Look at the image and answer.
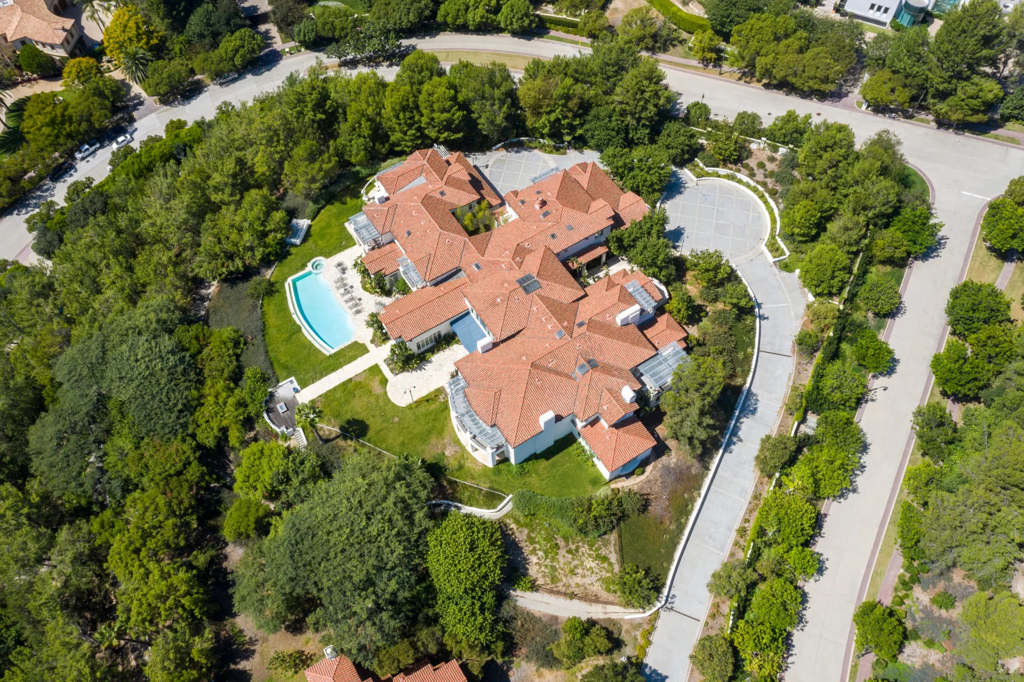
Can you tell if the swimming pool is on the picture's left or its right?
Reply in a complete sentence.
It is on the left.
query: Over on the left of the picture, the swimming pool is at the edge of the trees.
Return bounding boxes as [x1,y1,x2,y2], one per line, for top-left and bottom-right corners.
[281,259,359,357]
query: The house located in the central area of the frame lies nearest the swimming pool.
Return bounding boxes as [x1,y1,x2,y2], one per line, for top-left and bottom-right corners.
[348,137,693,476]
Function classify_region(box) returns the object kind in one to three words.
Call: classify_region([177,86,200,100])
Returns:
car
